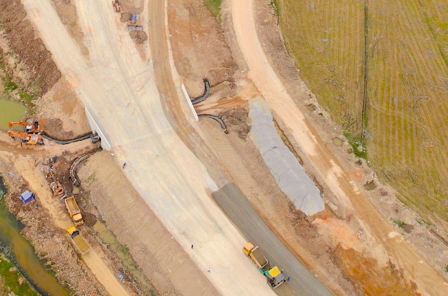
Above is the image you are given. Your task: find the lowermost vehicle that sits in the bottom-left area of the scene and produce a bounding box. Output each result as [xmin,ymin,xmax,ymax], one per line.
[63,222,93,257]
